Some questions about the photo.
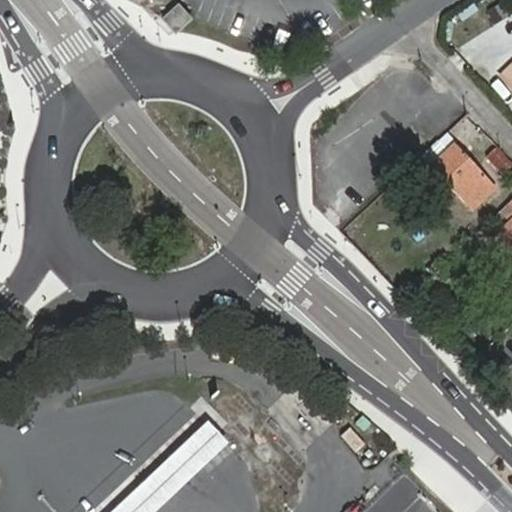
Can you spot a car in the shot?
Yes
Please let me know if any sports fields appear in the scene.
No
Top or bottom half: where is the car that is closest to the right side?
bottom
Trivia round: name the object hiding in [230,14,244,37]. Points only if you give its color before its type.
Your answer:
white car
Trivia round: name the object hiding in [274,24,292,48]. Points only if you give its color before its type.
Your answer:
white vehicle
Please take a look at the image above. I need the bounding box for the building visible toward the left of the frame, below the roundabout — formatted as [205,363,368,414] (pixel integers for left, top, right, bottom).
[112,422,228,512]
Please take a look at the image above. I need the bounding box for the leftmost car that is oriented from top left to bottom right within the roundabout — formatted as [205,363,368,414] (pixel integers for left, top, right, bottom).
[230,116,248,138]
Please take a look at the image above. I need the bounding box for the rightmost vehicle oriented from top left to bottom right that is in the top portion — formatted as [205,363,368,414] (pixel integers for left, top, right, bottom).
[344,184,365,206]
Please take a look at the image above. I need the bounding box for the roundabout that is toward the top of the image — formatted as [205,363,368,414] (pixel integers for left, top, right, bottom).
[24,34,300,322]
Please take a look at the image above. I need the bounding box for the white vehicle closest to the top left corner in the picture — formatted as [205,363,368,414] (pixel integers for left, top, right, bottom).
[4,13,20,34]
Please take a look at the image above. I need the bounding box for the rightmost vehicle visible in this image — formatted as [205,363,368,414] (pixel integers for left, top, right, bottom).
[440,378,461,400]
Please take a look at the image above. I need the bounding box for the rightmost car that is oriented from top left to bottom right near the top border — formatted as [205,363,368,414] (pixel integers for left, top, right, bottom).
[314,12,332,36]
